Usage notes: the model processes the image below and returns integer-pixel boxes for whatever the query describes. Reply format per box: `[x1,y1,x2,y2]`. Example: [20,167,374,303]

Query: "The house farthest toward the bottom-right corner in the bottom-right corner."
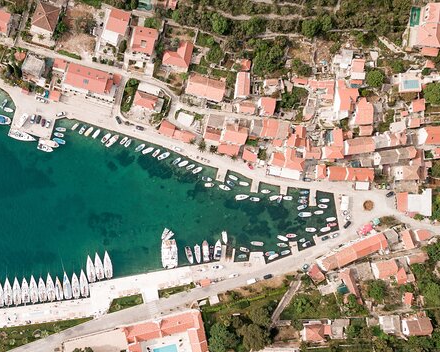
[401,316,433,336]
